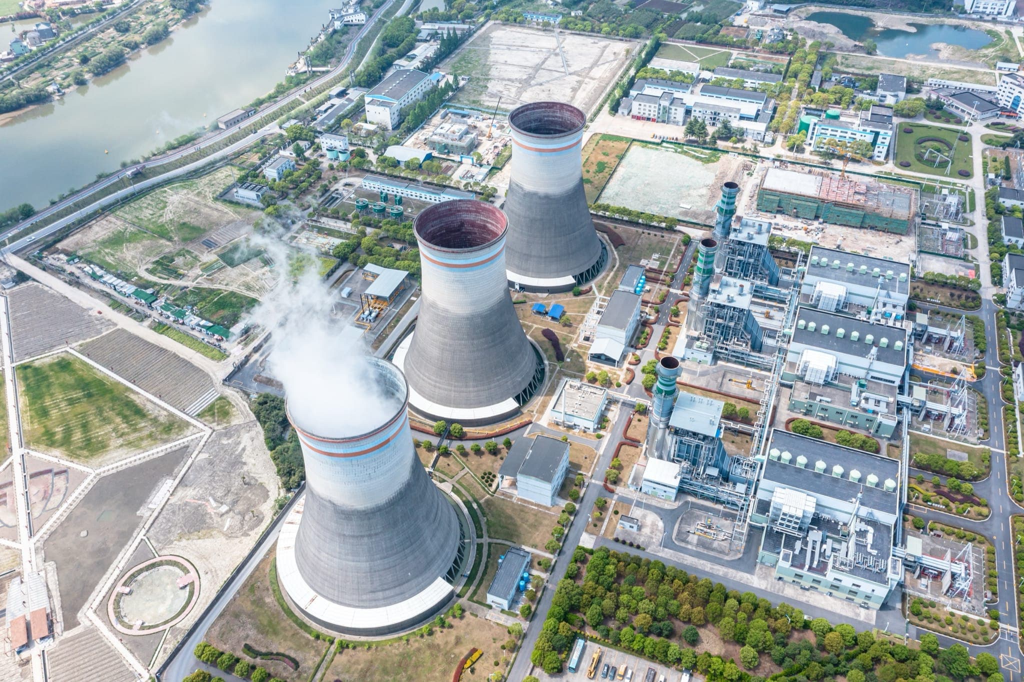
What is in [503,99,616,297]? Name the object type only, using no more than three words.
cooling tower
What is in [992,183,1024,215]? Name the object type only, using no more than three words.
house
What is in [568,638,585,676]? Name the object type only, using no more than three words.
vehicle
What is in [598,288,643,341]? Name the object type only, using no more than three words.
building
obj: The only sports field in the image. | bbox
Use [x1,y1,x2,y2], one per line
[632,43,730,69]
